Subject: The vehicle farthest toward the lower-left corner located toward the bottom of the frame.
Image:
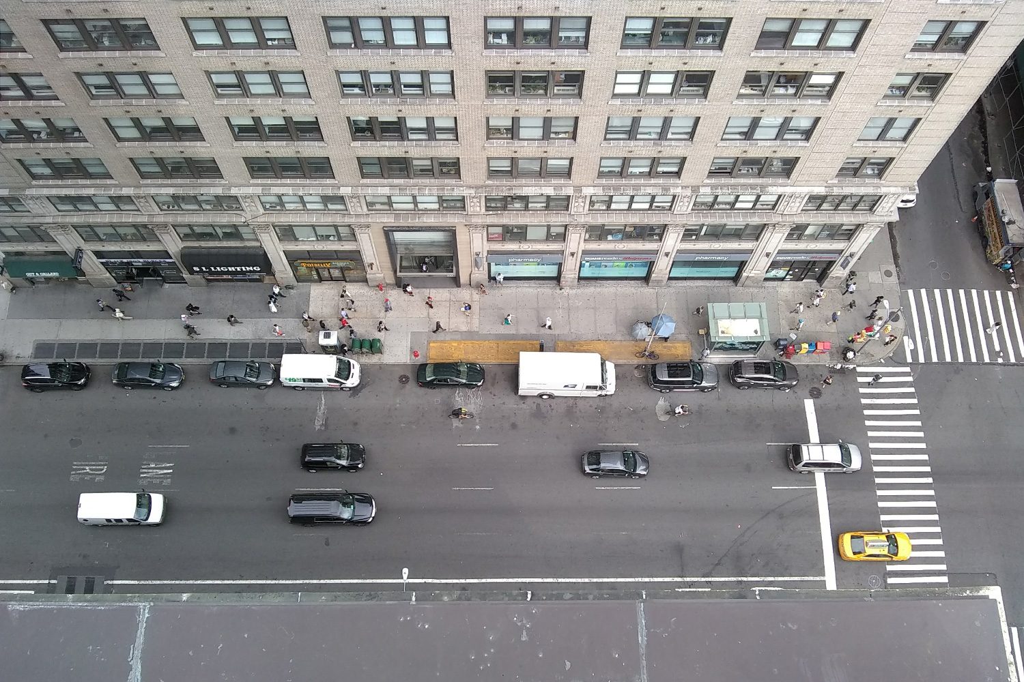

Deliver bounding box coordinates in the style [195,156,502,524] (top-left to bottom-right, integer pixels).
[72,489,169,526]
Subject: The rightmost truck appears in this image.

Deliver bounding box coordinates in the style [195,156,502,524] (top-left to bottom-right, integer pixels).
[976,184,1024,271]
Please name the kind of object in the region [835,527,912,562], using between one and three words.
car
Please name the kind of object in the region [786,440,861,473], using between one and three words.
car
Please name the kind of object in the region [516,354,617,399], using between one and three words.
truck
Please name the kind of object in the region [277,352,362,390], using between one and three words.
van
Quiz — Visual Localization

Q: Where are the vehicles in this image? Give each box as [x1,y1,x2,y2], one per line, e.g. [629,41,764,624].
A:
[786,440,861,473]
[277,352,362,390]
[976,184,1024,271]
[19,358,94,391]
[111,357,187,390]
[417,357,485,388]
[516,354,617,399]
[727,356,799,390]
[581,446,649,478]
[287,487,377,525]
[72,489,169,526]
[299,438,367,472]
[209,357,278,389]
[900,195,919,208]
[646,357,719,392]
[835,527,912,562]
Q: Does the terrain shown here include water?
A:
No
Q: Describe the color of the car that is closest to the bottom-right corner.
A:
yellow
